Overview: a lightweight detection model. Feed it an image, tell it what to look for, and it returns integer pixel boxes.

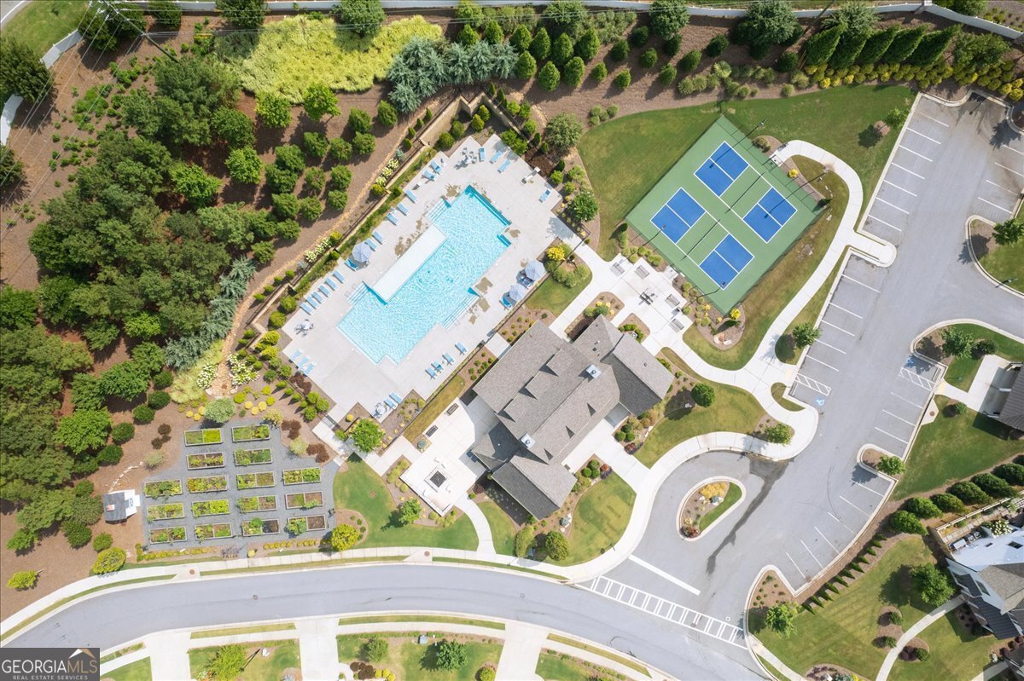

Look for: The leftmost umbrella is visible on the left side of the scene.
[352,242,373,263]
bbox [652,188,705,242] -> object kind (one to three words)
sports court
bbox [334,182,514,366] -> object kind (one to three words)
swimming pool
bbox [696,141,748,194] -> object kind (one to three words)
sports court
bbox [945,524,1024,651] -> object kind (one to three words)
house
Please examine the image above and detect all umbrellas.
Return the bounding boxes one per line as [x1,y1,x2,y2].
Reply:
[525,260,545,280]
[352,242,373,263]
[508,281,529,302]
